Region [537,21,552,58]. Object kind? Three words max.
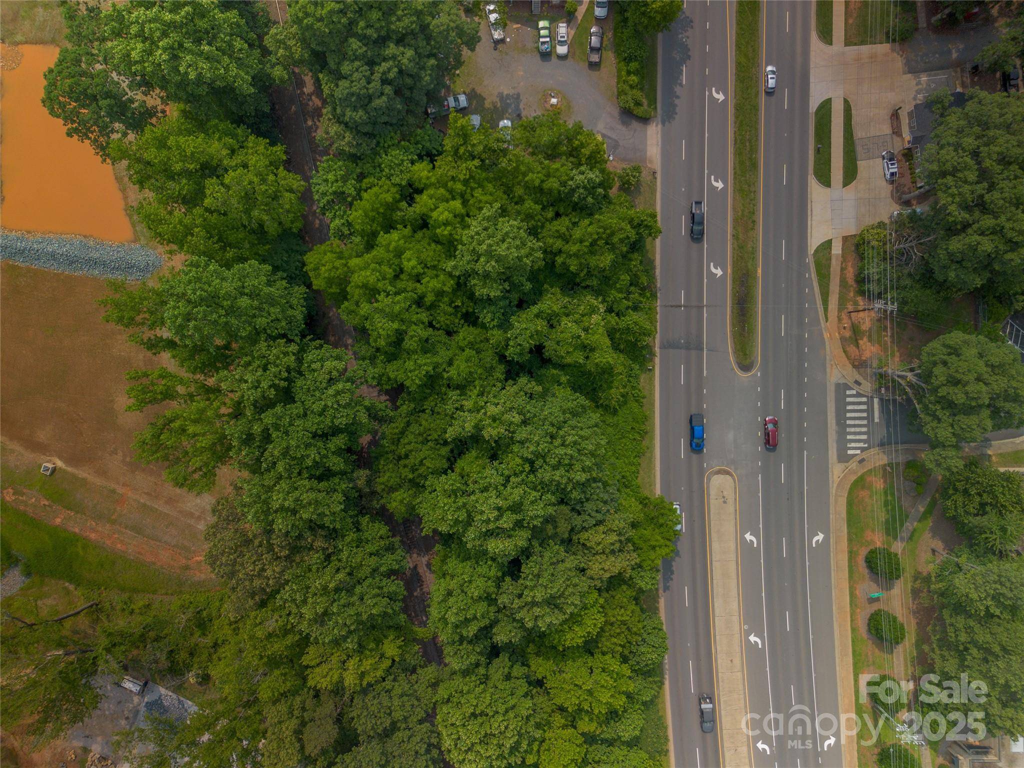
vehicle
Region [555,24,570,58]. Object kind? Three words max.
car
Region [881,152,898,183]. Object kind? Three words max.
car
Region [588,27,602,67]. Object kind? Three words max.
vehicle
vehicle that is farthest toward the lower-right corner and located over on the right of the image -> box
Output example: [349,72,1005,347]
[697,692,714,731]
